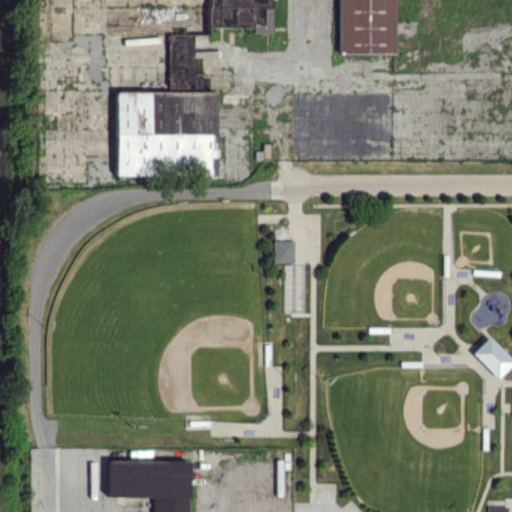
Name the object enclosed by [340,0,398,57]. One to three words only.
building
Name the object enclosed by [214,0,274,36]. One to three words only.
building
